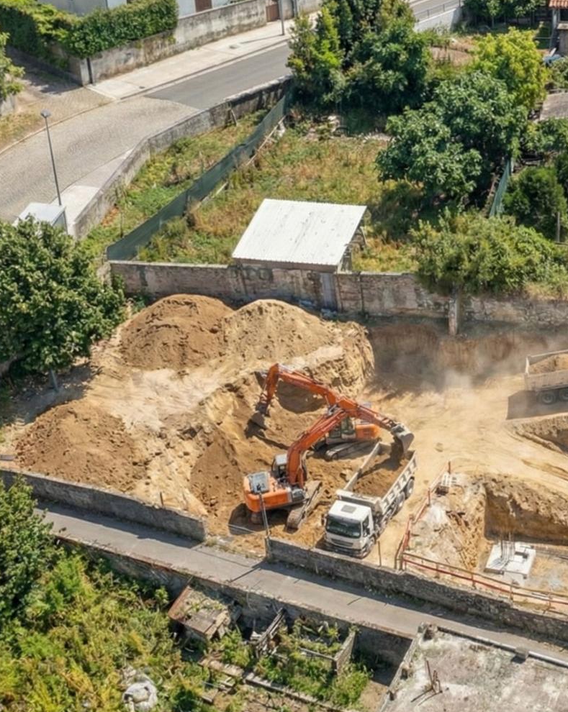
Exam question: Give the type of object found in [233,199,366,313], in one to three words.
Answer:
shed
